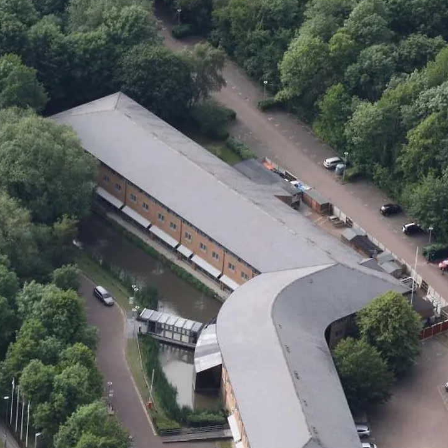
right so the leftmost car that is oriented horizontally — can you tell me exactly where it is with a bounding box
[319,155,347,169]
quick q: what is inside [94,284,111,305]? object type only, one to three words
car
